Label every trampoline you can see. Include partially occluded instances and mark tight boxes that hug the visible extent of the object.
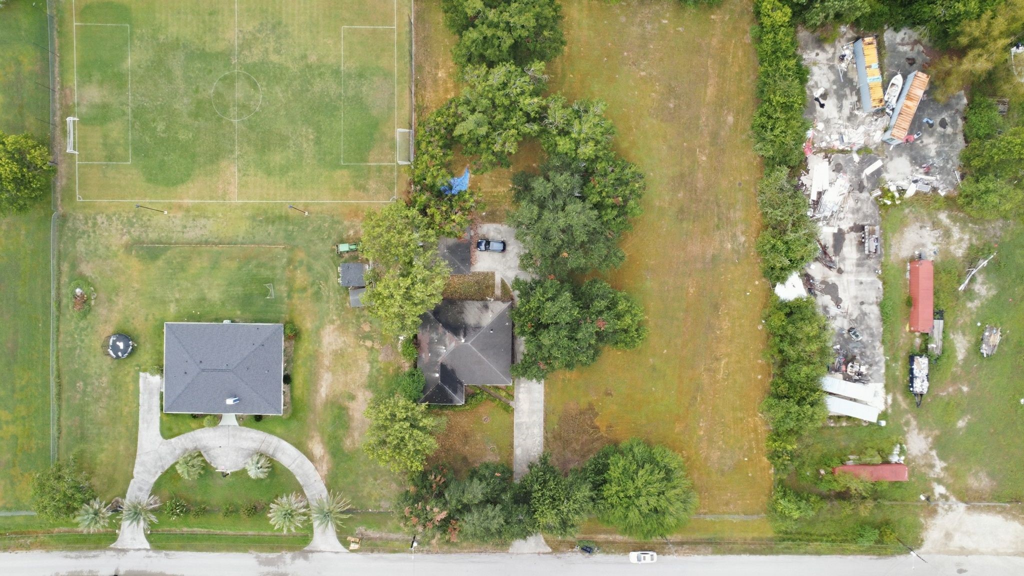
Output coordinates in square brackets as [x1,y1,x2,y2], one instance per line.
[101,333,133,360]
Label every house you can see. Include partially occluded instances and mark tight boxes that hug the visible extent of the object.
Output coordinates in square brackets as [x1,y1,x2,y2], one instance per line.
[163,322,285,415]
[417,301,512,404]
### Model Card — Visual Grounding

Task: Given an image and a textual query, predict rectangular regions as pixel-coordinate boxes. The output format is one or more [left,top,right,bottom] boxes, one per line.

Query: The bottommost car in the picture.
[629,551,656,565]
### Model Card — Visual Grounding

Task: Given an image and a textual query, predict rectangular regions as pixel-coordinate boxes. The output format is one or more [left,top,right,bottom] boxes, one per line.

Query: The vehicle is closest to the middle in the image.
[478,239,506,252]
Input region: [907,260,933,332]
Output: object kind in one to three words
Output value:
shed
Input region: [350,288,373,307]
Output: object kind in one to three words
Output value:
shed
